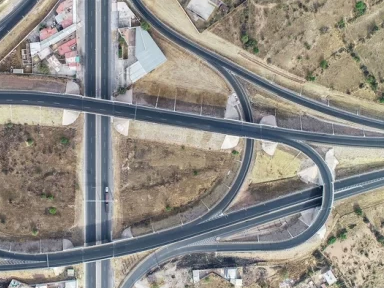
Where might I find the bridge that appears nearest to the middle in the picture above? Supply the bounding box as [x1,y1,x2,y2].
[222,94,277,155]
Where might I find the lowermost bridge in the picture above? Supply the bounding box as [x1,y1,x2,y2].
[53,228,132,276]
